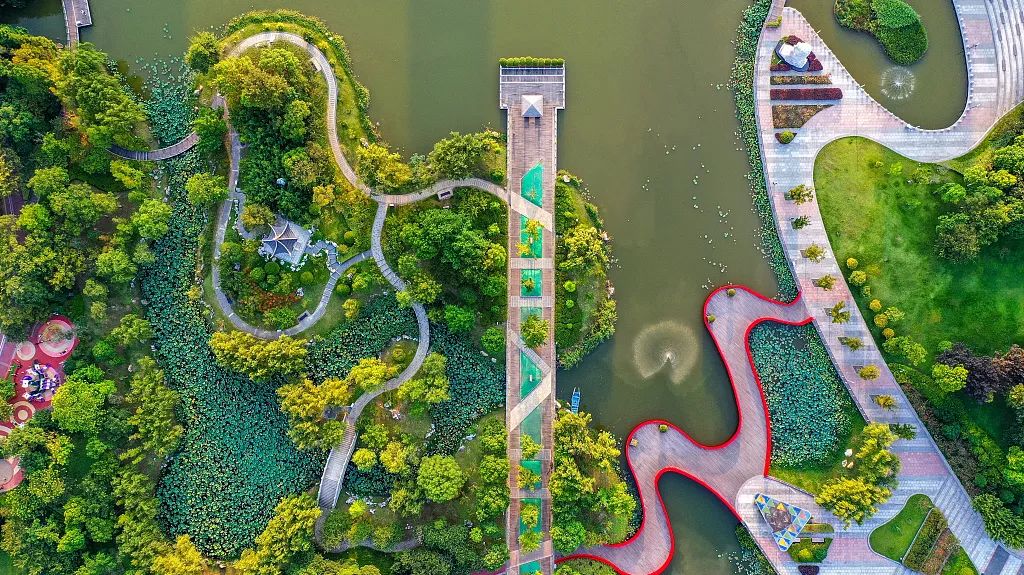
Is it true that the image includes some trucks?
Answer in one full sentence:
No, I can't see a single truck in this photo.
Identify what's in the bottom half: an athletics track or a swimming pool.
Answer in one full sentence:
Visible in the bottom half is a swimming pool.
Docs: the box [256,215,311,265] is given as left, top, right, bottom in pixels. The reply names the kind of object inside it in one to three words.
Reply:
building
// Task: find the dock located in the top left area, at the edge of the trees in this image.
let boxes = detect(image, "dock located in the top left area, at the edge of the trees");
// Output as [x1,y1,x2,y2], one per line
[61,0,93,47]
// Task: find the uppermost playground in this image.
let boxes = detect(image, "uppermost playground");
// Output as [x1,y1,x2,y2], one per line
[0,314,81,442]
